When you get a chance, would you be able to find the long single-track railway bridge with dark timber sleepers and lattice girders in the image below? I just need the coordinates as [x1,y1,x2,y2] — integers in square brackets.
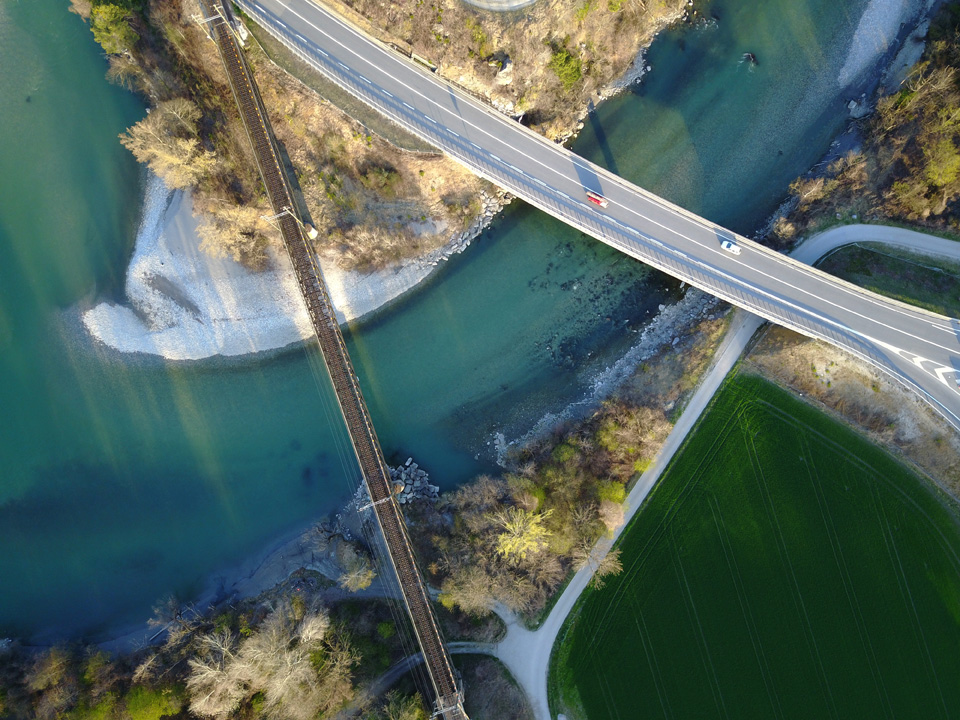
[204,10,465,707]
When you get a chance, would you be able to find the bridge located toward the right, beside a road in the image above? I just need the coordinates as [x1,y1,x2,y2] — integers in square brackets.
[472,104,806,335]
